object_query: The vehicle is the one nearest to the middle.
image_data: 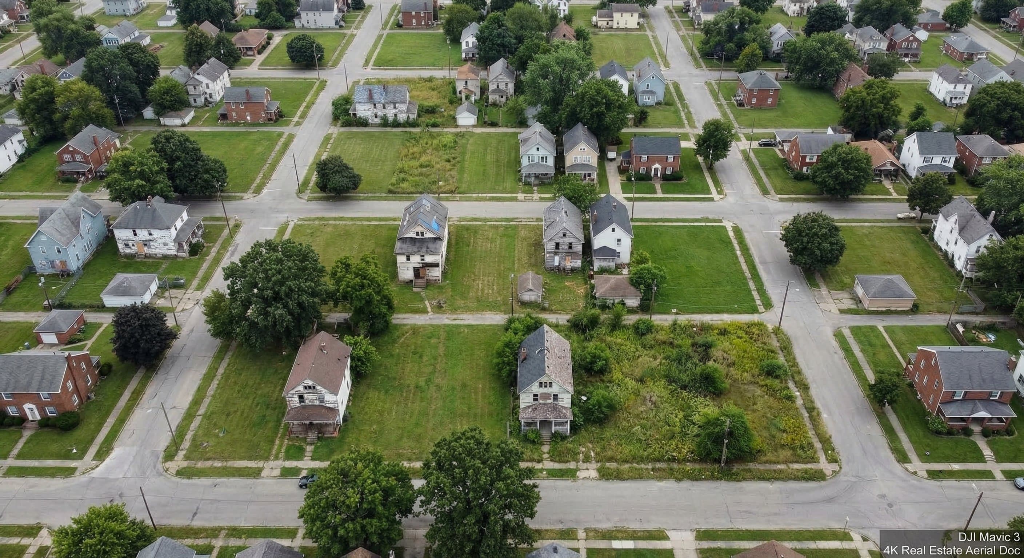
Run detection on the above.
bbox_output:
[605,140,617,158]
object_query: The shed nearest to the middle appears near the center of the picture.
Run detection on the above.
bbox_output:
[518,270,543,301]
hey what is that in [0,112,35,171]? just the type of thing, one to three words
house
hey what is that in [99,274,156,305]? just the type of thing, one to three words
building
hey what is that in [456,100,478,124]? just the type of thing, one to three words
building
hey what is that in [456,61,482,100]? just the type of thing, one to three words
house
